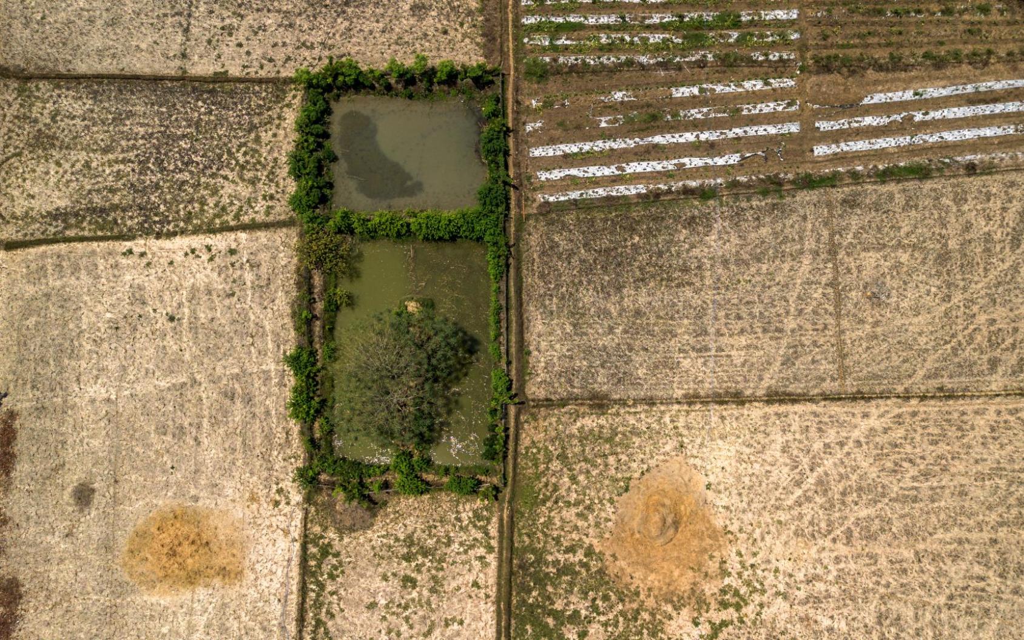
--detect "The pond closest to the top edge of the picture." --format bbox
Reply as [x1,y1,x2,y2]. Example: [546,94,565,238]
[330,95,489,213]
